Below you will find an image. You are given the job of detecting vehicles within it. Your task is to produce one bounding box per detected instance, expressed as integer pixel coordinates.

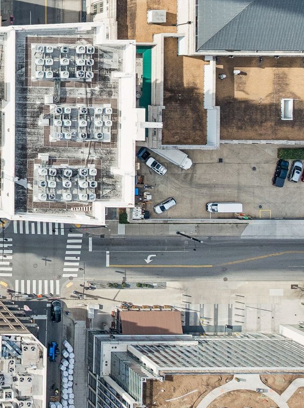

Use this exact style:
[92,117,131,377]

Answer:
[46,336,57,359]
[272,159,287,186]
[286,160,302,183]
[144,157,167,176]
[152,195,176,214]
[209,202,241,212]
[143,148,192,174]
[50,299,62,323]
